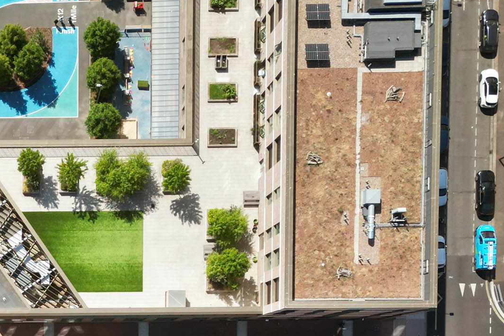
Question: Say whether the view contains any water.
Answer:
No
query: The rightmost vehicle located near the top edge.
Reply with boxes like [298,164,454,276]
[478,12,502,56]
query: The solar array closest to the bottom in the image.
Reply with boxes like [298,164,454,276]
[304,43,330,62]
